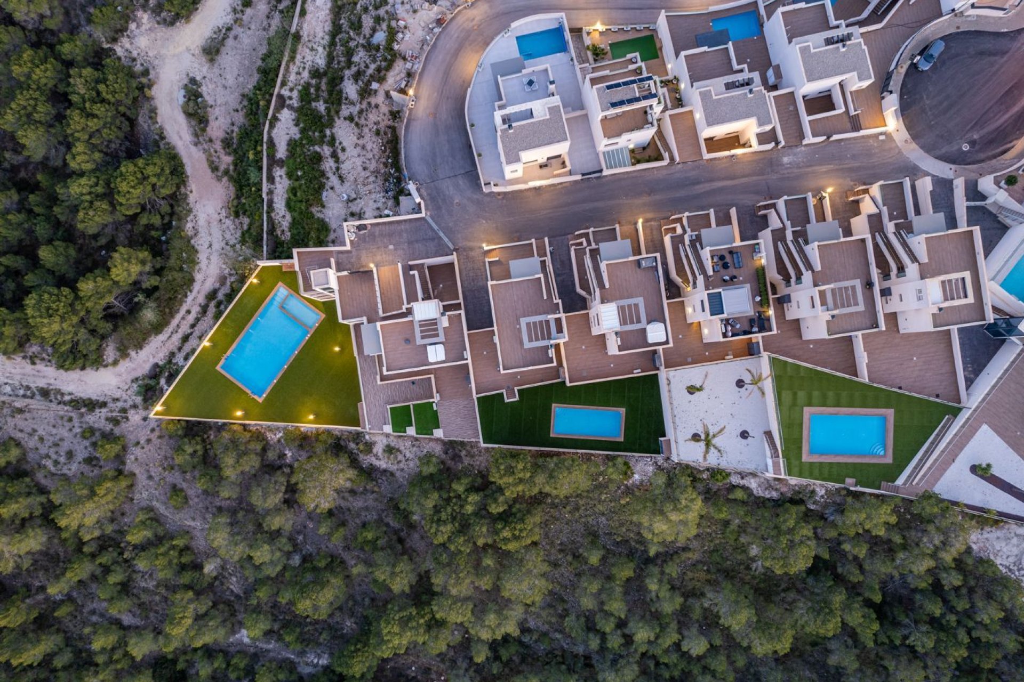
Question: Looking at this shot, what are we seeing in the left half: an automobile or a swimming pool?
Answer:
swimming pool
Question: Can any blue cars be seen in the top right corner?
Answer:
Yes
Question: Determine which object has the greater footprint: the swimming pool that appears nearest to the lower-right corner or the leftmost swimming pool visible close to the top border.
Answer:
the swimming pool that appears nearest to the lower-right corner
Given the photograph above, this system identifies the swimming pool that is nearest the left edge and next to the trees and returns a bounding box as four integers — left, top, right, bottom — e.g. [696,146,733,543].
[216,282,325,403]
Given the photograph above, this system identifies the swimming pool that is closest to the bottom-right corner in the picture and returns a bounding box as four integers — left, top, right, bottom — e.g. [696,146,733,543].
[802,407,894,464]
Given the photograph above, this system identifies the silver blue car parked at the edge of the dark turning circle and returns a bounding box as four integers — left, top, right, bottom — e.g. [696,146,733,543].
[914,37,947,73]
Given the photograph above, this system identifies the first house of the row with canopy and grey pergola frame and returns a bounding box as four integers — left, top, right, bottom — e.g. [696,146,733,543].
[488,257,569,373]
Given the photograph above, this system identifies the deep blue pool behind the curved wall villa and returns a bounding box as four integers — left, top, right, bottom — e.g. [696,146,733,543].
[512,23,570,64]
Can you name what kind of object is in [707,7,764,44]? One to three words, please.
swimming pool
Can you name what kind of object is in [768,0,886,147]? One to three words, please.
house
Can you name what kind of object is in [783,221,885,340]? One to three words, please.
house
